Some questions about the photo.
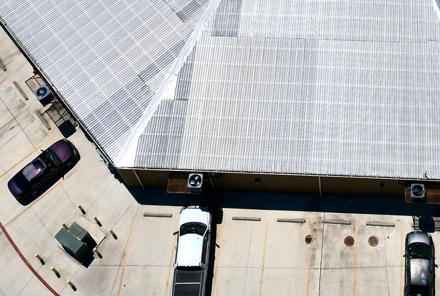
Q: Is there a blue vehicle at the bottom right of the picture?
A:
No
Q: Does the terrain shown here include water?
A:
No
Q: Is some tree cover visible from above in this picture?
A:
No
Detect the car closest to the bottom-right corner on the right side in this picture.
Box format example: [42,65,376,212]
[402,233,438,296]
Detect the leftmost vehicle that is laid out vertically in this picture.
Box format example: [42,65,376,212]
[172,205,212,296]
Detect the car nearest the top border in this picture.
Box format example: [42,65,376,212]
[7,142,80,202]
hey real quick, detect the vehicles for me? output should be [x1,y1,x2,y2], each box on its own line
[7,142,80,202]
[402,233,438,296]
[172,205,212,296]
